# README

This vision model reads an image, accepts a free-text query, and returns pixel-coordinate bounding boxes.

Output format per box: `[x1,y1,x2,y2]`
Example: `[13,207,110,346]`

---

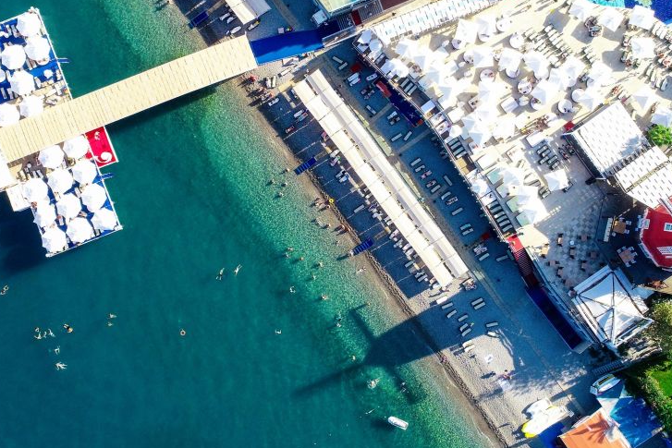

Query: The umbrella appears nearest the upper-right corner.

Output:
[627,4,654,32]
